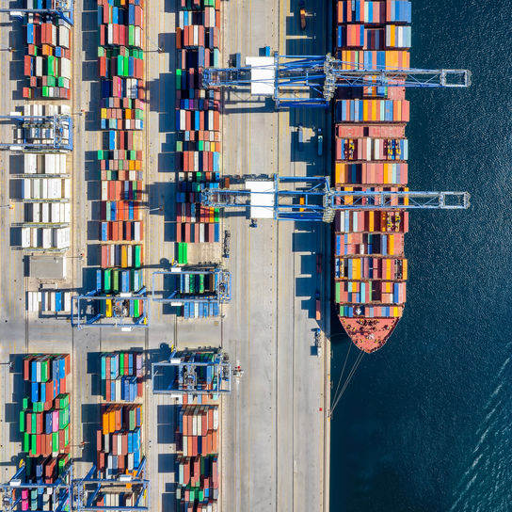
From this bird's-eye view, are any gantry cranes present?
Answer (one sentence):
Yes, you can see a gantry crane in this photo.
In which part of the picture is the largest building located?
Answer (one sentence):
The largest building is in the left part of the image.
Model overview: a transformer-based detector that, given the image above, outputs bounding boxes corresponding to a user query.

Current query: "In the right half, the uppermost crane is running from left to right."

[202,54,473,112]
